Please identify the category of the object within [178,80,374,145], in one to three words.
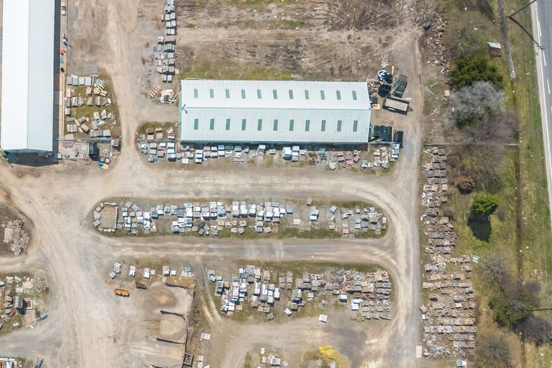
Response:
building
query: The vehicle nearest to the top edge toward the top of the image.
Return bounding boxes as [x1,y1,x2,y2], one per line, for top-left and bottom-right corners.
[389,71,407,99]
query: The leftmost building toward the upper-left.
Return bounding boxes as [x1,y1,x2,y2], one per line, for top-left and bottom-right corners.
[4,0,56,153]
